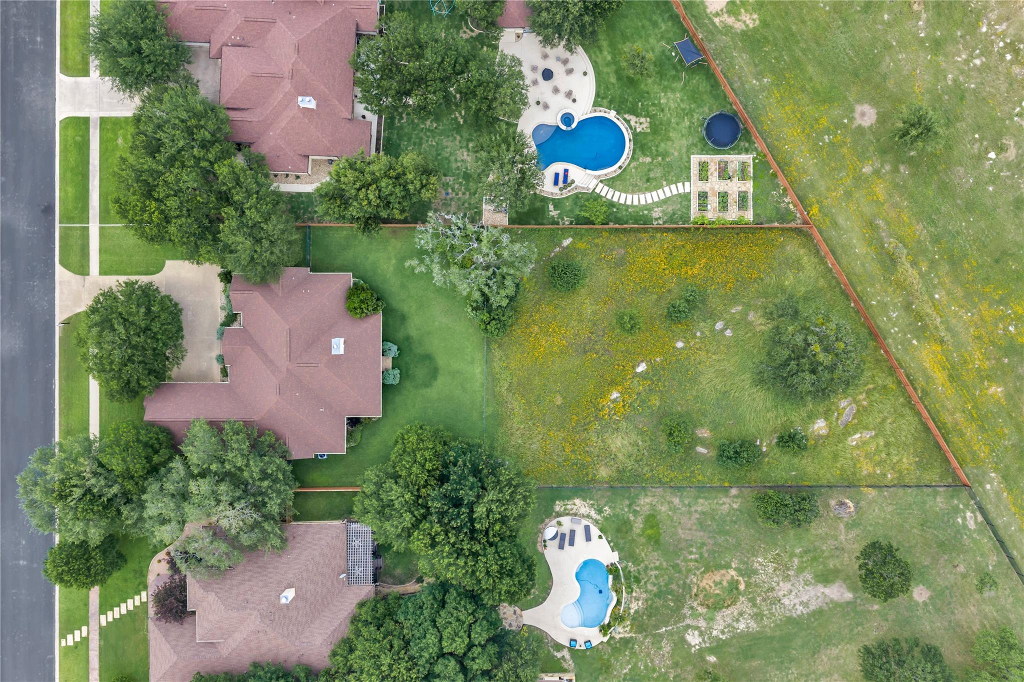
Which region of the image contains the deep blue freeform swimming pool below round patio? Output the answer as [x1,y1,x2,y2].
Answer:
[530,108,629,173]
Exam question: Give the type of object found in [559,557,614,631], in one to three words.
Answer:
swimming pool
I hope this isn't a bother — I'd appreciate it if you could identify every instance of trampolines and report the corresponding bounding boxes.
[696,107,744,149]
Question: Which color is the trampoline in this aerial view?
blue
